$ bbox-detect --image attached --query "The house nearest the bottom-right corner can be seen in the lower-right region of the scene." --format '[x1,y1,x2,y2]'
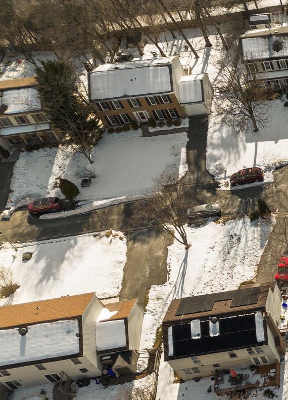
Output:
[163,282,286,380]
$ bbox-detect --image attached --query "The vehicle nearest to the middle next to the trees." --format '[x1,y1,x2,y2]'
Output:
[186,203,223,221]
